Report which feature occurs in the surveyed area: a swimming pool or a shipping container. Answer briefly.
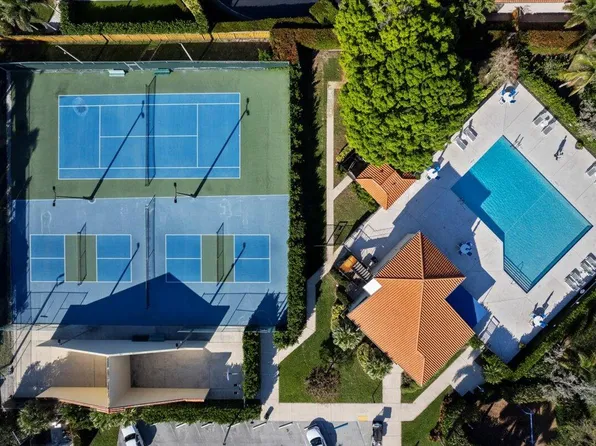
swimming pool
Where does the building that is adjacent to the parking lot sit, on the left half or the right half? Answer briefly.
right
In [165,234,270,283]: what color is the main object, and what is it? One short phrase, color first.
blue sports court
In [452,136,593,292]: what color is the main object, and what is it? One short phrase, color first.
blue swimming pool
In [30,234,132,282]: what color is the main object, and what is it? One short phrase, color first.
blue sports court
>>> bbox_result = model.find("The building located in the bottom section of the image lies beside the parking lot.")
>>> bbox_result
[347,231,476,388]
